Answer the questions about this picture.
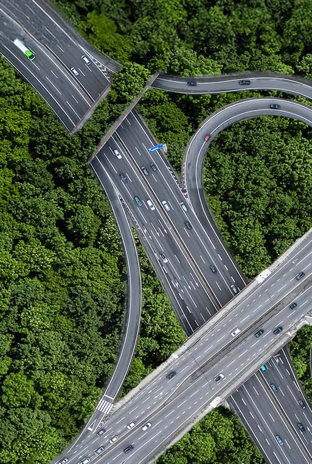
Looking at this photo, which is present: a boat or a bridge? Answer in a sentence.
Visible in the photo is a bridge.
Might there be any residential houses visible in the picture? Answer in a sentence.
No, there's no residential house here.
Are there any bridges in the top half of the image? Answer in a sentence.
Yes, looking in the top half of the image, one can make out a bridge.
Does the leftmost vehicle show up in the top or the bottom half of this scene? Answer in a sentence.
It is in the top half that the leftmost vehicle appears.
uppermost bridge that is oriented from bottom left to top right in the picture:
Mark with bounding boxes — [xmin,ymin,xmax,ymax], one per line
[66,60,159,163]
